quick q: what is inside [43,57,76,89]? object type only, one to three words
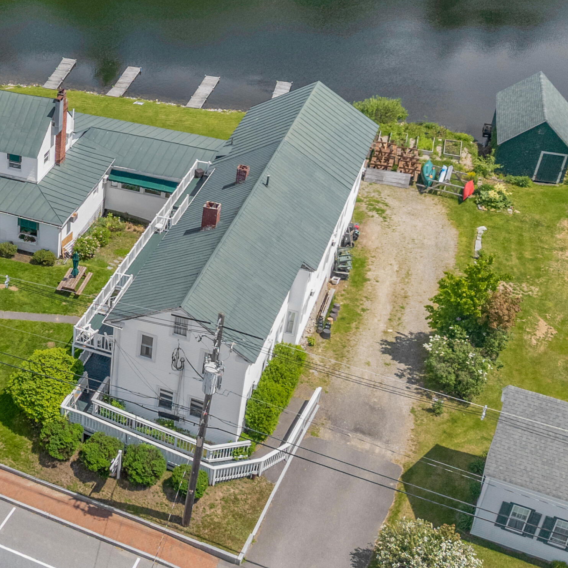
pier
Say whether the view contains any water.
Yes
